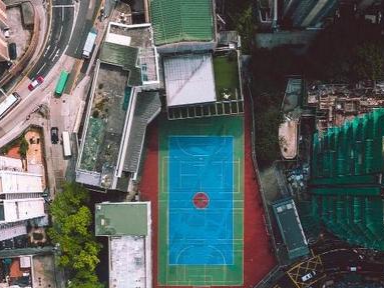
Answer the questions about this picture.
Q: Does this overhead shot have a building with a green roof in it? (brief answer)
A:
Yes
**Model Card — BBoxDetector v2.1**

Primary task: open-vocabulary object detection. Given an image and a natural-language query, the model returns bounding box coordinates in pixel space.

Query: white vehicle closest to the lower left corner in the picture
[61,131,75,159]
